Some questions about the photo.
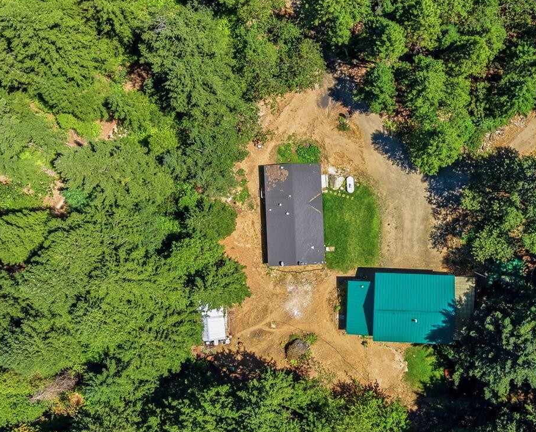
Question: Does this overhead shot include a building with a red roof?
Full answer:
No, no building with a red roof can be seen from above.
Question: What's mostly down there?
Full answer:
The largest share of the image is taken up by trees.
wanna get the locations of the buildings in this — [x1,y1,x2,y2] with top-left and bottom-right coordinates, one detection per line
[264,162,326,267]
[203,306,231,344]
[346,272,475,345]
